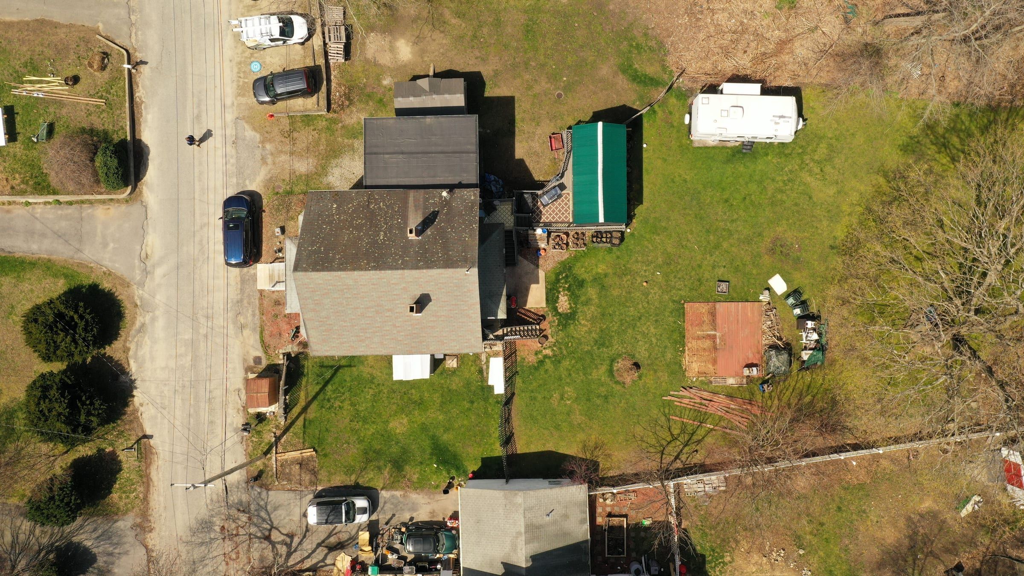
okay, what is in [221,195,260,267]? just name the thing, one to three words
car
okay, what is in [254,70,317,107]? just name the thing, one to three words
car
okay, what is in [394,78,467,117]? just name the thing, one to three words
shed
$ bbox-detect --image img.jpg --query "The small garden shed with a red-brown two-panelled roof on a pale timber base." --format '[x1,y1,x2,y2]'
[246,370,283,414]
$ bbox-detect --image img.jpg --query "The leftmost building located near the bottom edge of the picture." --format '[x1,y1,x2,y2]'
[458,477,591,576]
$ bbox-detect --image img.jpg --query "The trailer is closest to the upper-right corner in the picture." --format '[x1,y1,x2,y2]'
[684,83,805,144]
